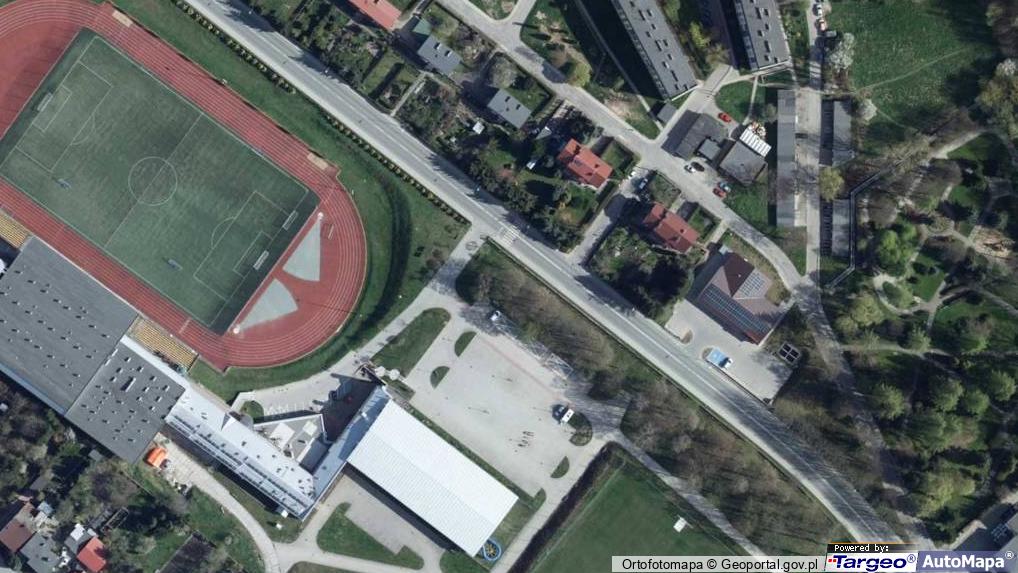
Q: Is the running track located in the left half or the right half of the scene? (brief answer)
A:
left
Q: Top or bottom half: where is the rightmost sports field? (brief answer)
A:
bottom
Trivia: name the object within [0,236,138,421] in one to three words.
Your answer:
building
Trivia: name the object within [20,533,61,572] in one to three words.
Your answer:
house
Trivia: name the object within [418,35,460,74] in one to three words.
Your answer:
house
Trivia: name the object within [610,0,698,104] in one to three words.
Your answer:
building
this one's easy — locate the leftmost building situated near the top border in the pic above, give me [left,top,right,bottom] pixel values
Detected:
[347,0,404,31]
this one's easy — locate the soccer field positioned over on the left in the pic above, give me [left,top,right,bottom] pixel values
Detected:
[0,25,322,338]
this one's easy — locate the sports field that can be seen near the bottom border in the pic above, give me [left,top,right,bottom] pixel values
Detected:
[532,459,759,573]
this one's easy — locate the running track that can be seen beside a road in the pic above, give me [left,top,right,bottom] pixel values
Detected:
[0,0,367,373]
